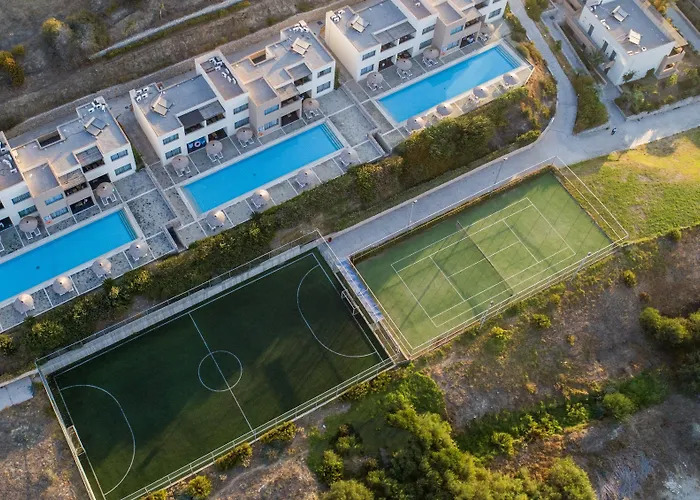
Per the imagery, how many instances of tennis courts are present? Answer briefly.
1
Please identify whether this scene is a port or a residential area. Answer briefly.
residential area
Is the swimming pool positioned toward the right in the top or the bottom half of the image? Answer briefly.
top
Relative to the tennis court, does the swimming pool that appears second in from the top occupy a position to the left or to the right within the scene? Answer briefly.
to the left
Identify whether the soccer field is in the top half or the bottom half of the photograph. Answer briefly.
bottom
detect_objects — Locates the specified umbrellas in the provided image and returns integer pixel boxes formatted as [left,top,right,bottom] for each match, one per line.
[254,188,271,205]
[407,117,423,134]
[206,208,226,227]
[206,140,222,156]
[13,293,33,313]
[21,217,39,235]
[367,72,383,88]
[94,183,111,200]
[92,259,111,276]
[396,57,412,73]
[51,277,70,295]
[473,85,489,102]
[422,46,438,63]
[437,102,453,118]
[502,72,517,89]
[172,154,189,171]
[297,168,314,185]
[129,241,148,259]
[236,126,253,143]
[482,23,497,38]
[303,97,320,115]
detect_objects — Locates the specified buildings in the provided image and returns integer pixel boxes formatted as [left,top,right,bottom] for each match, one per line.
[0,102,135,237]
[579,0,686,78]
[127,23,335,166]
[325,0,509,81]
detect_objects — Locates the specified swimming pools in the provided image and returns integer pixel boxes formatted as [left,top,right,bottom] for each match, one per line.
[175,118,350,220]
[372,41,528,129]
[0,209,143,311]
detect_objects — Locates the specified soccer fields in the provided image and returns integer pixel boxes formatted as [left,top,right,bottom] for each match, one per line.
[46,253,394,500]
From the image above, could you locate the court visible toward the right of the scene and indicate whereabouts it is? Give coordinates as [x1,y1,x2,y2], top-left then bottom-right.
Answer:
[351,171,613,355]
